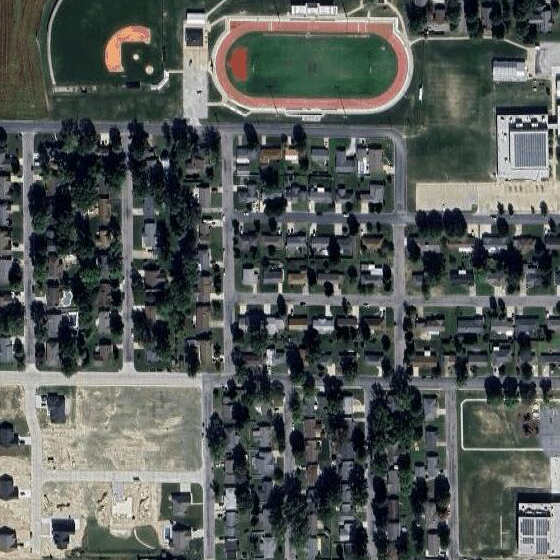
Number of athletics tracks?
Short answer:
one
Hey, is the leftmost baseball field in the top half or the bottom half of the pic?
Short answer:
top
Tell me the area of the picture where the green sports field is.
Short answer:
top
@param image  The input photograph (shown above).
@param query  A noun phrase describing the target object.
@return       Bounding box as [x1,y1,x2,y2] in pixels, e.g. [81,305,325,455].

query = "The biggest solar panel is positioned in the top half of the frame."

[514,133,545,169]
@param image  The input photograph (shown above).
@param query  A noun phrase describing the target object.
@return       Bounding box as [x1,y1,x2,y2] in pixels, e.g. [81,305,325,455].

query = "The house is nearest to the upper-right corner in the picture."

[529,11,552,34]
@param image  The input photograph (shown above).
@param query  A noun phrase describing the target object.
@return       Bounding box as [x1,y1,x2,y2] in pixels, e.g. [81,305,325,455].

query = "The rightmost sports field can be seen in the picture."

[226,32,398,98]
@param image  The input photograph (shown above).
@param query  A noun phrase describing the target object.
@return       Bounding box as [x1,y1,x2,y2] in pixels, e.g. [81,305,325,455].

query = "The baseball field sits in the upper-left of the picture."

[49,0,164,87]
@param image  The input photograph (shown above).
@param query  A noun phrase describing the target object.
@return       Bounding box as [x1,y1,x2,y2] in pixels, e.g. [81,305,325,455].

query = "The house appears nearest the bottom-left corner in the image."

[0,532,21,551]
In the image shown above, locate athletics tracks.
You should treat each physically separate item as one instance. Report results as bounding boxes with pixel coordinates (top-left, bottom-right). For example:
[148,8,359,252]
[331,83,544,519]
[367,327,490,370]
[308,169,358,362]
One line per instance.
[213,16,411,111]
